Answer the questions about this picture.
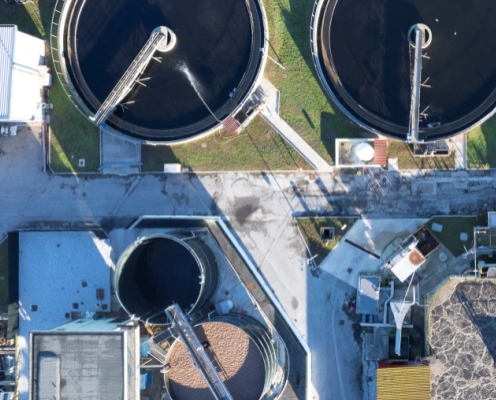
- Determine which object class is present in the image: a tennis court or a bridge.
bridge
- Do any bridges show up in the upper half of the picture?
Yes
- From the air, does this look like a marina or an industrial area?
industrial area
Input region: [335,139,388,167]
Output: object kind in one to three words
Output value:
house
